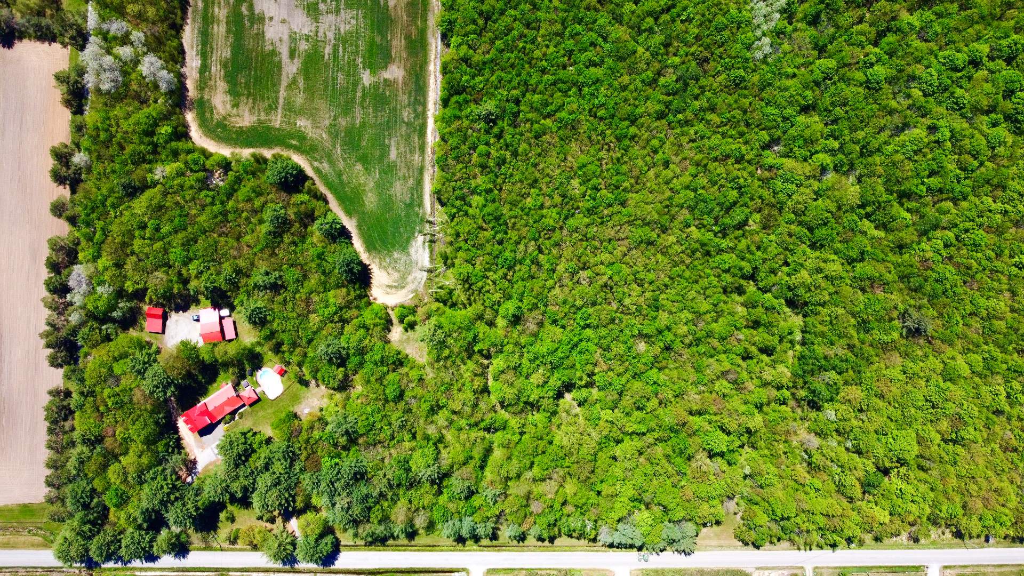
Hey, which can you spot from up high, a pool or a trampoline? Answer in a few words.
pool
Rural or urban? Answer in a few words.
rural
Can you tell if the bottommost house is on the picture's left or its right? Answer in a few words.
left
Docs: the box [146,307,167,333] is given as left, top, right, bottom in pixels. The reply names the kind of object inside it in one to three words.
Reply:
shed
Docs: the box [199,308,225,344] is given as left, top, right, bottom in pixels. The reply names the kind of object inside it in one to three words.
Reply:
barn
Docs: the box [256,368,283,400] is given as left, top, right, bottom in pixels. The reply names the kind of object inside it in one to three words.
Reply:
swimming pool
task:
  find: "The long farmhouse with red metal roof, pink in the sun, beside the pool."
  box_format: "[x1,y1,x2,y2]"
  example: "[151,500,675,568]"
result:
[181,384,244,433]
